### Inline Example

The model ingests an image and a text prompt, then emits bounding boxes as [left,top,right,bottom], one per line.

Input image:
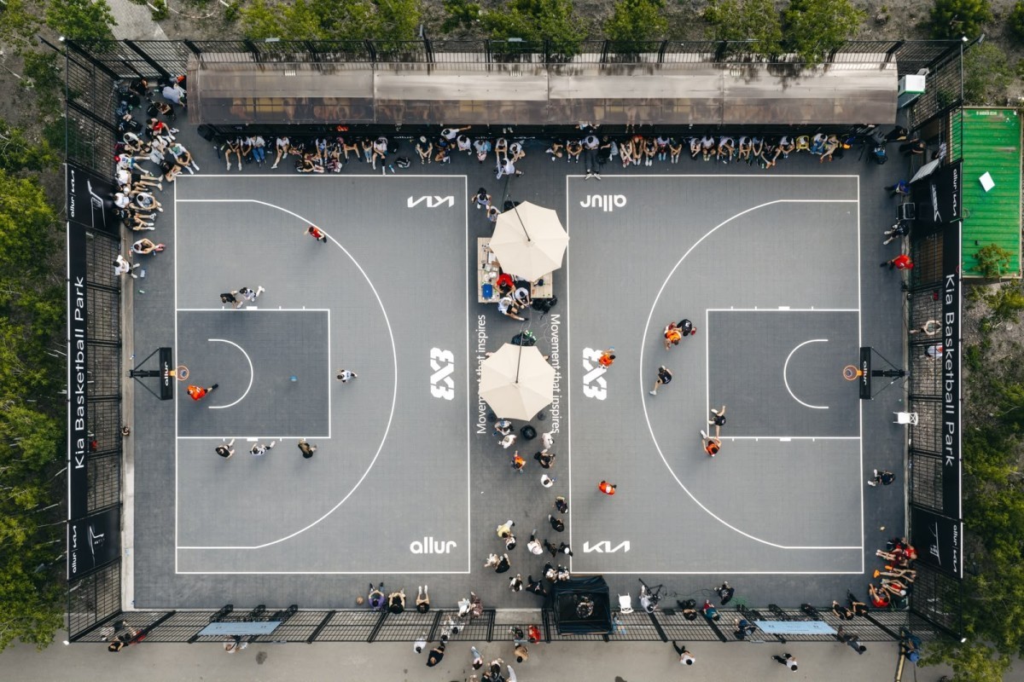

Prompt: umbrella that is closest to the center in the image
[480,327,555,421]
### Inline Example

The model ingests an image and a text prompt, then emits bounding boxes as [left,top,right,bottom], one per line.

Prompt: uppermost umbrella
[490,201,569,282]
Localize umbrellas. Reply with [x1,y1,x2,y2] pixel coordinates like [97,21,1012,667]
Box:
[480,327,555,421]
[490,201,569,282]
